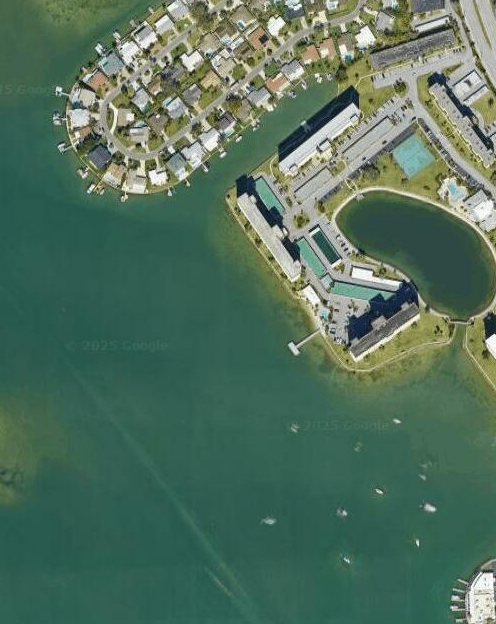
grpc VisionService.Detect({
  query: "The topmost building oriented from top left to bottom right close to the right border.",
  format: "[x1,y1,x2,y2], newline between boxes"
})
[429,83,494,171]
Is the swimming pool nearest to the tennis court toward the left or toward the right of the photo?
right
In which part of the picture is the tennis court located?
top right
